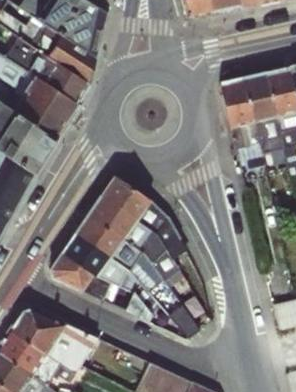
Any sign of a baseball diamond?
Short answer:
No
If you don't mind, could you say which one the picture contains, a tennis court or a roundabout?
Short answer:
roundabout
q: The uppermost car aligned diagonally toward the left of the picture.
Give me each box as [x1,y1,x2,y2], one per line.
[26,188,44,209]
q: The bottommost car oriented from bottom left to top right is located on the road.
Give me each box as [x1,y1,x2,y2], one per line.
[25,238,42,260]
